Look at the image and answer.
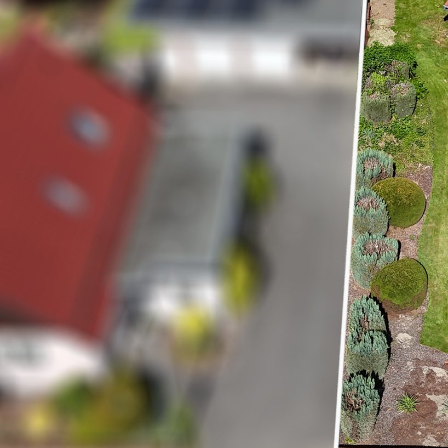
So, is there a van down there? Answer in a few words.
No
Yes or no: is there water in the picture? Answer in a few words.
No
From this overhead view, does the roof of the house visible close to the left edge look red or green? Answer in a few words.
red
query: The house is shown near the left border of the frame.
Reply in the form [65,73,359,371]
[0,29,161,383]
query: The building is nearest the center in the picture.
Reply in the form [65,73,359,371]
[125,127,252,306]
